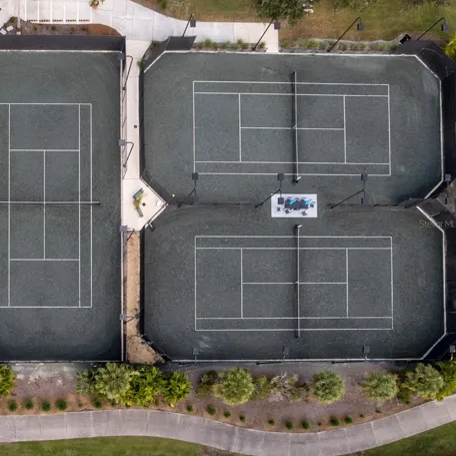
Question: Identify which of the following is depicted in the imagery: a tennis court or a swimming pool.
tennis court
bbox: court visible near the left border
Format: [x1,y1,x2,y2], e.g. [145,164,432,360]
[0,49,123,362]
